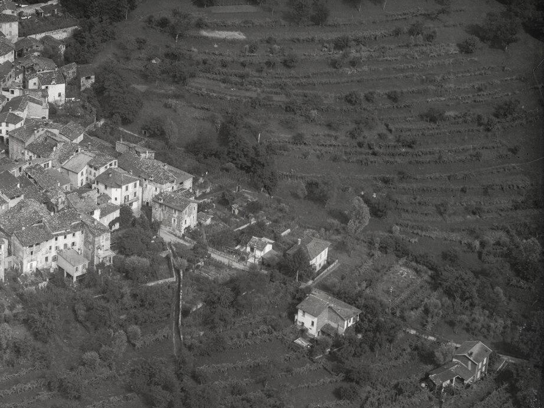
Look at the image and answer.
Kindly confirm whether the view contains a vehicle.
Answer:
No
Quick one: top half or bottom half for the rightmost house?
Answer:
bottom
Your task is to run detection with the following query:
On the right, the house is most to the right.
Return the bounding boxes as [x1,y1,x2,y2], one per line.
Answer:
[457,339,492,384]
